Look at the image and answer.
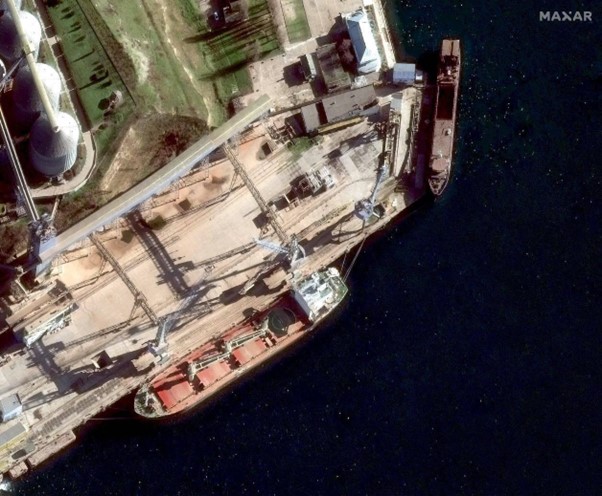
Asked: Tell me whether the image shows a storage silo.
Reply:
Yes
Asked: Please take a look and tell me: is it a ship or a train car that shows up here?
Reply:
ship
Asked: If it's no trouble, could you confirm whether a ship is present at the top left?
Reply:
No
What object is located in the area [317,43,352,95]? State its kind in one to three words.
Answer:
shed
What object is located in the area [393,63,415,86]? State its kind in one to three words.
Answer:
shed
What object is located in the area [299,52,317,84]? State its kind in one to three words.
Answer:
house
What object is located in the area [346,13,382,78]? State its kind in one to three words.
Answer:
building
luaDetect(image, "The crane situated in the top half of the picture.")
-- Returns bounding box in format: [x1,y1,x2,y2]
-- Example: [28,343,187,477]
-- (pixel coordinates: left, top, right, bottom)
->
[356,159,387,222]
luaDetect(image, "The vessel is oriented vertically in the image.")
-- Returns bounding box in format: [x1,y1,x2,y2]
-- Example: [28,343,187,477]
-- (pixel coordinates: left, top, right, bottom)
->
[429,41,461,197]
